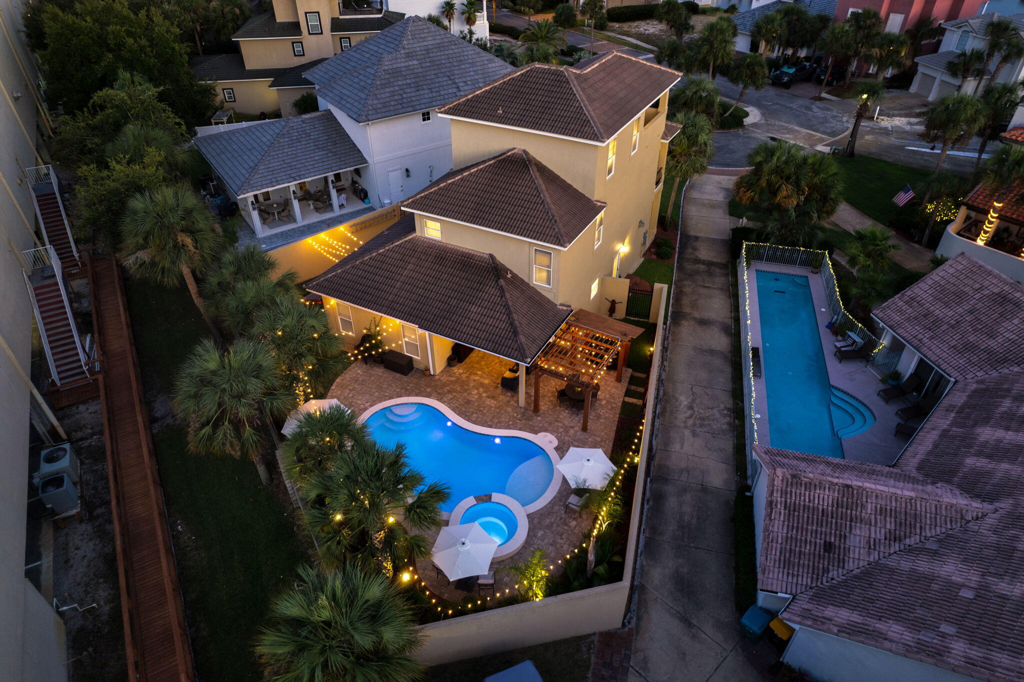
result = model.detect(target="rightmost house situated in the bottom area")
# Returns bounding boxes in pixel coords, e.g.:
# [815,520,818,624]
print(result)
[732,249,1024,682]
